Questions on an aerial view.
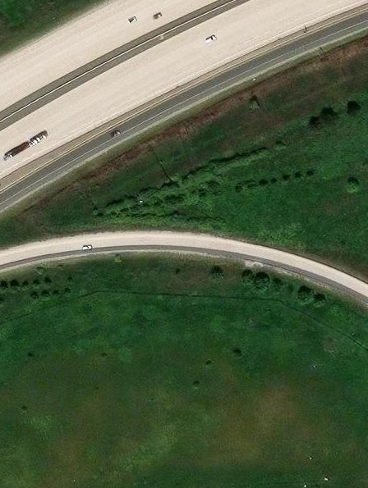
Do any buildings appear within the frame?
No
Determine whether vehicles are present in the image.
Yes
